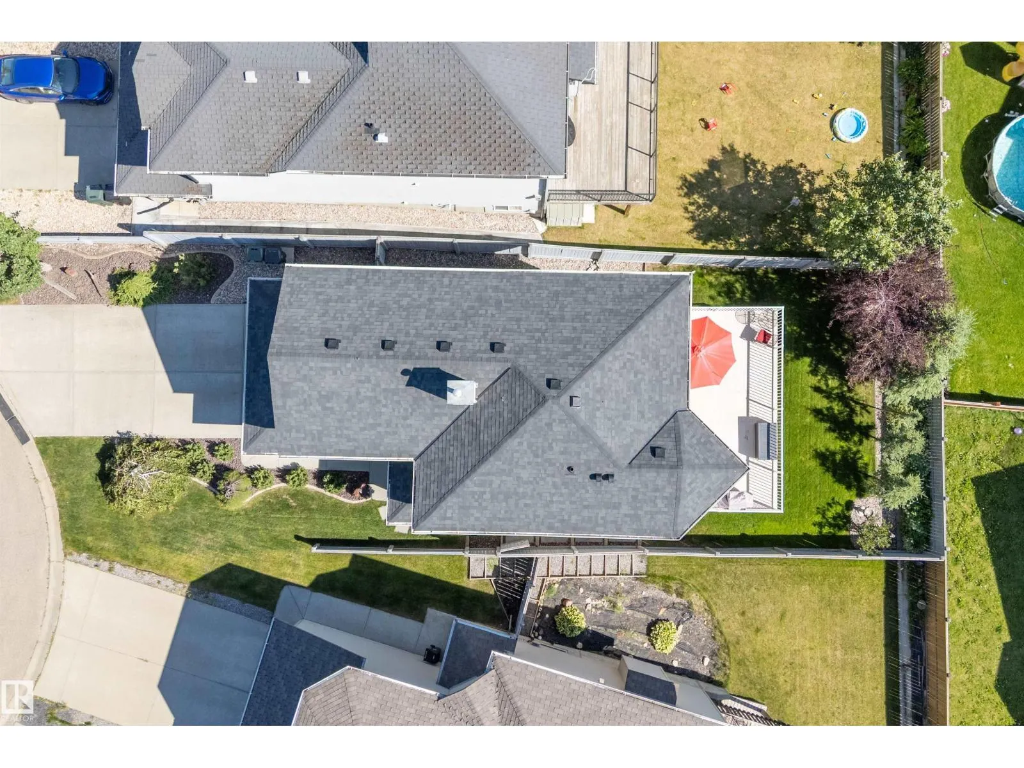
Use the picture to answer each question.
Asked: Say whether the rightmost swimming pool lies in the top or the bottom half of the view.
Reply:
top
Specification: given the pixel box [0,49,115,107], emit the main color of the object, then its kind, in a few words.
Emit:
blue car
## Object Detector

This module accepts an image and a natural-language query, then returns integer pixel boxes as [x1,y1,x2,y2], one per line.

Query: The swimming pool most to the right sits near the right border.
[971,115,1024,241]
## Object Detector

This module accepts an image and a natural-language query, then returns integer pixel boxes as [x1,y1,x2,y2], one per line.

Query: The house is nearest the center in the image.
[239,261,752,541]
